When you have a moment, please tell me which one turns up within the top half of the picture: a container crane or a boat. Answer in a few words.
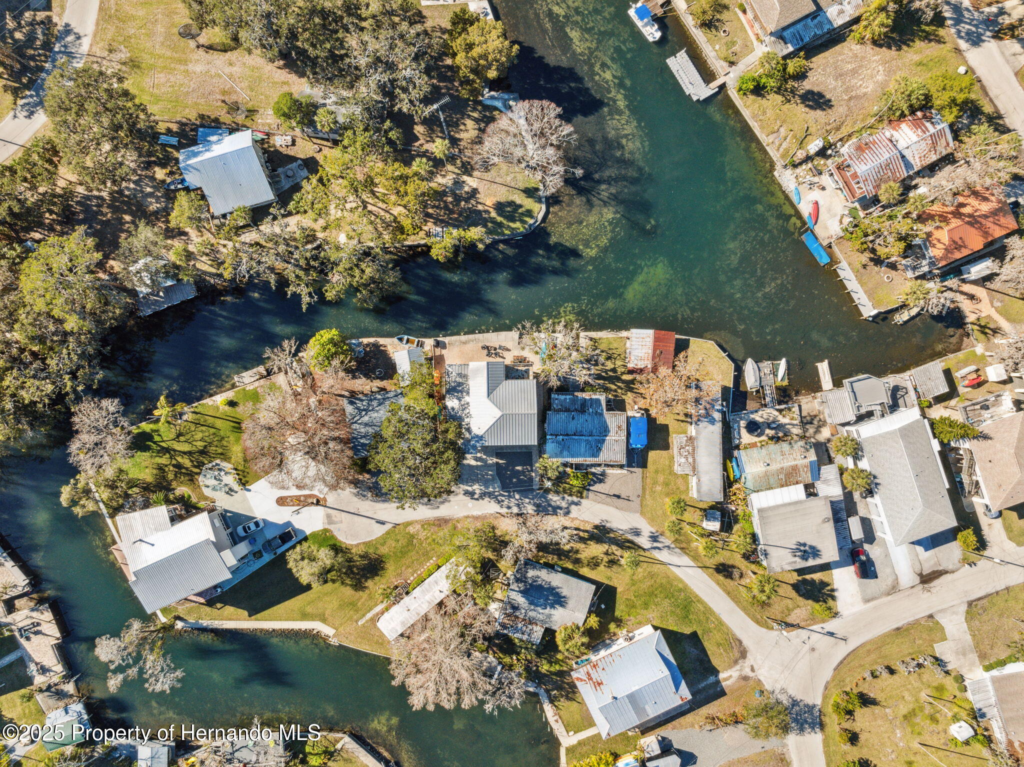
boat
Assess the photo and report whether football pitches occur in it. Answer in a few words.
No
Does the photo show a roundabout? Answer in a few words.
No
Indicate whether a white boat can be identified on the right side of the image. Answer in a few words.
Yes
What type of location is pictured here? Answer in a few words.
residential area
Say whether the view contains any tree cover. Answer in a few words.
Yes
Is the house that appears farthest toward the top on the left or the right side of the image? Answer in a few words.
right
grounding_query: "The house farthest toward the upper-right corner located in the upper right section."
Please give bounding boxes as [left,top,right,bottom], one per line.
[876,109,954,175]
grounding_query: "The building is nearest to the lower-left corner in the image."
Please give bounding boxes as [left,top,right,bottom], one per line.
[42,712,94,752]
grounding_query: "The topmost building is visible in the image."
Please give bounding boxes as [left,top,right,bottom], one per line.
[739,0,872,57]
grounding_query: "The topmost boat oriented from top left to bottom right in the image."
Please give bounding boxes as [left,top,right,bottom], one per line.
[626,0,660,43]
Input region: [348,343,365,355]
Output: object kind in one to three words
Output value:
boat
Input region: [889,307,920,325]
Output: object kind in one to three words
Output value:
boat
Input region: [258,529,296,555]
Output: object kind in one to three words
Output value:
truck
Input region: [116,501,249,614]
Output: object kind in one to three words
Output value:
house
